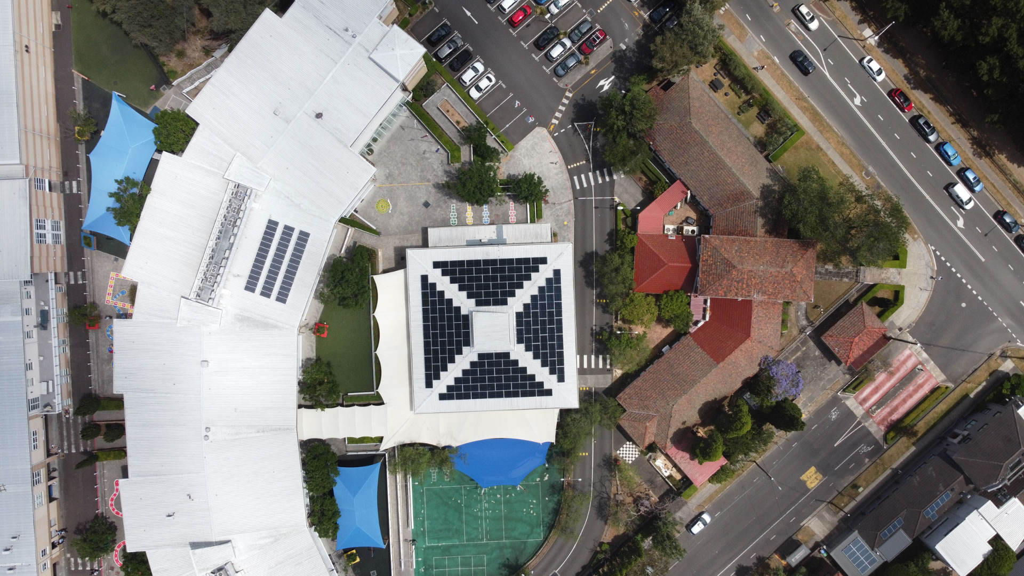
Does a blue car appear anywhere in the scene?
Yes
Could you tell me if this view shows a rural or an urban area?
urban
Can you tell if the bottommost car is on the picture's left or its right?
right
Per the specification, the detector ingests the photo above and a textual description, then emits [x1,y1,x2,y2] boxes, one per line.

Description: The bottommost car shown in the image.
[685,509,712,536]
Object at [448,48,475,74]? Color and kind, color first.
black car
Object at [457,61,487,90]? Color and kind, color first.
white car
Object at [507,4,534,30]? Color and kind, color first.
red car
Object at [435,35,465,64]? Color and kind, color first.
gray car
